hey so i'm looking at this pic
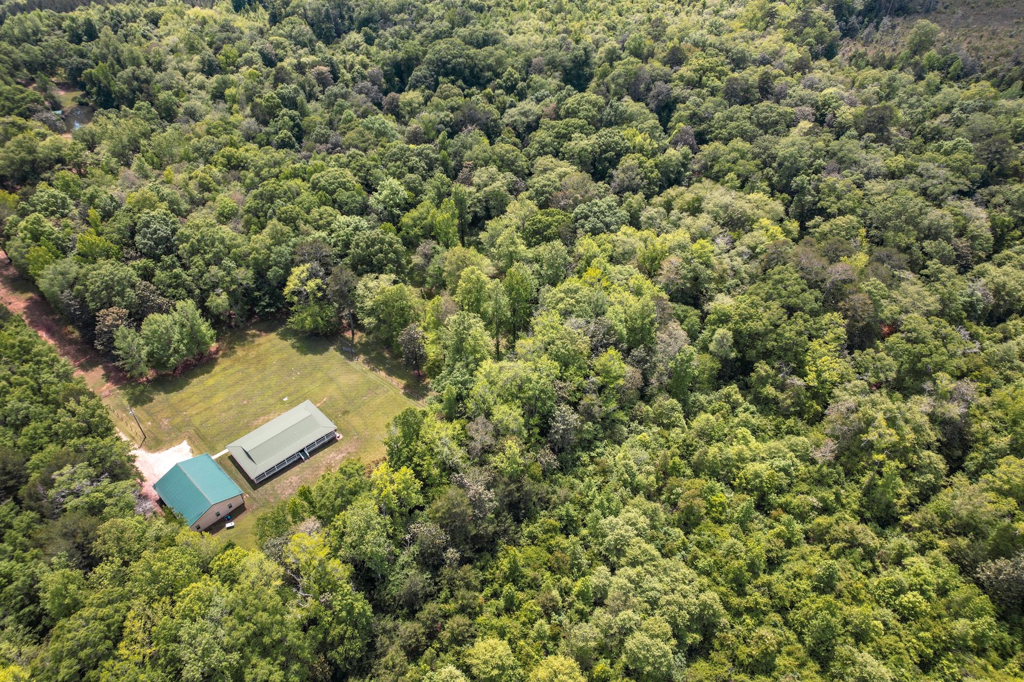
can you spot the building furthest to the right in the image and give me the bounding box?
[226,399,337,485]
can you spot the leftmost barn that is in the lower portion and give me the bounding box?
[154,453,248,536]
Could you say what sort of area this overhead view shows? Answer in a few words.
forest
